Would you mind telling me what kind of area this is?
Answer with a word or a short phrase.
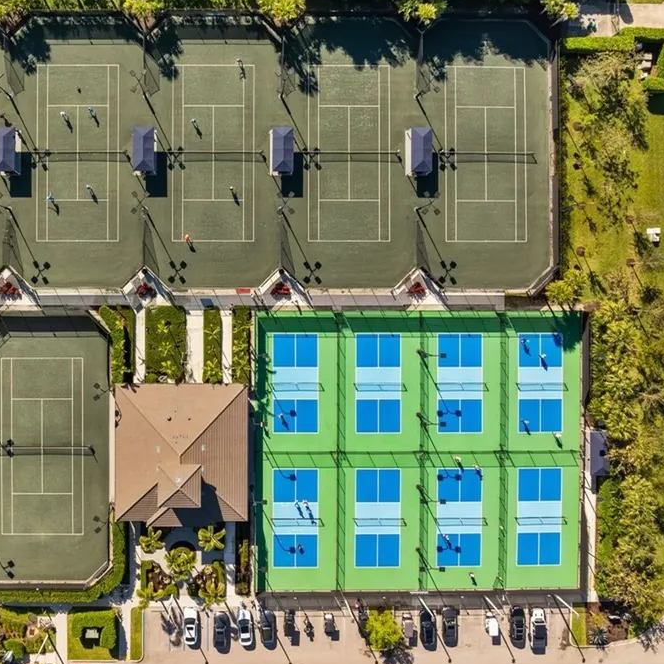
sports ground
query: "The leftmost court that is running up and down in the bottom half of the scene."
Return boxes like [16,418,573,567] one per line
[0,312,110,583]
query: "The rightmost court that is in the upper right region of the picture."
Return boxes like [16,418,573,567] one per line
[417,19,549,288]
